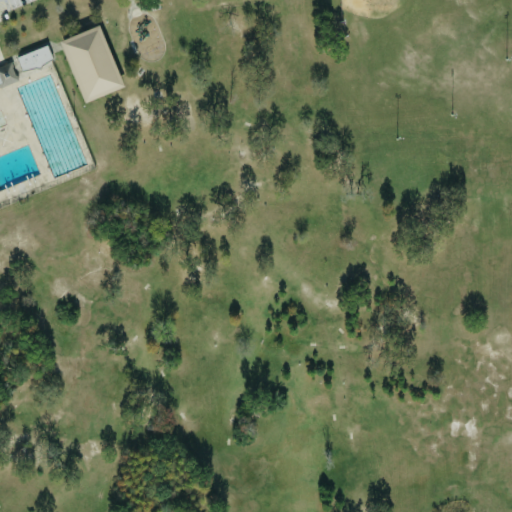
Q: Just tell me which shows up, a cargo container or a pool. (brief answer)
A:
pool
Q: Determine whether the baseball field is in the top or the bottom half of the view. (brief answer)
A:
top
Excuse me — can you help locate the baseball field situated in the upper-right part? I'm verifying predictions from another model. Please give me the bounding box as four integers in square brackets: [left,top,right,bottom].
[341,0,512,138]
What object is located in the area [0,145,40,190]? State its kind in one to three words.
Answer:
swimming pool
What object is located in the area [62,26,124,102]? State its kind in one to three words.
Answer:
building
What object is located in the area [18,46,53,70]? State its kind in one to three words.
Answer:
building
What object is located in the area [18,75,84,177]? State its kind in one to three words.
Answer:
swimming pool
